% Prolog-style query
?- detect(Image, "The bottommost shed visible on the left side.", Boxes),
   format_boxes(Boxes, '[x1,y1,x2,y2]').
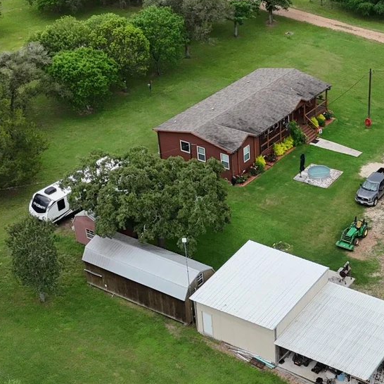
[79,233,216,323]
